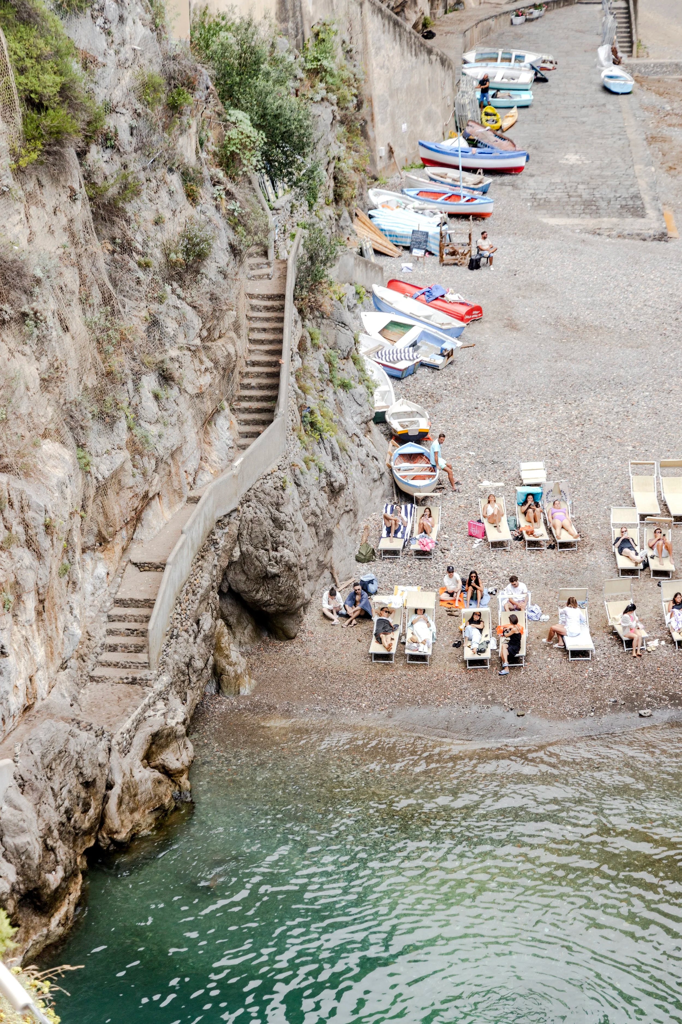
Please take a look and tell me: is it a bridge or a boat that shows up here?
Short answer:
boat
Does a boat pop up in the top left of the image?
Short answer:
No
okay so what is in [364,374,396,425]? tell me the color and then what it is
white boat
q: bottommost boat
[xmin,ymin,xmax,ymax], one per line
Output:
[392,445,437,500]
